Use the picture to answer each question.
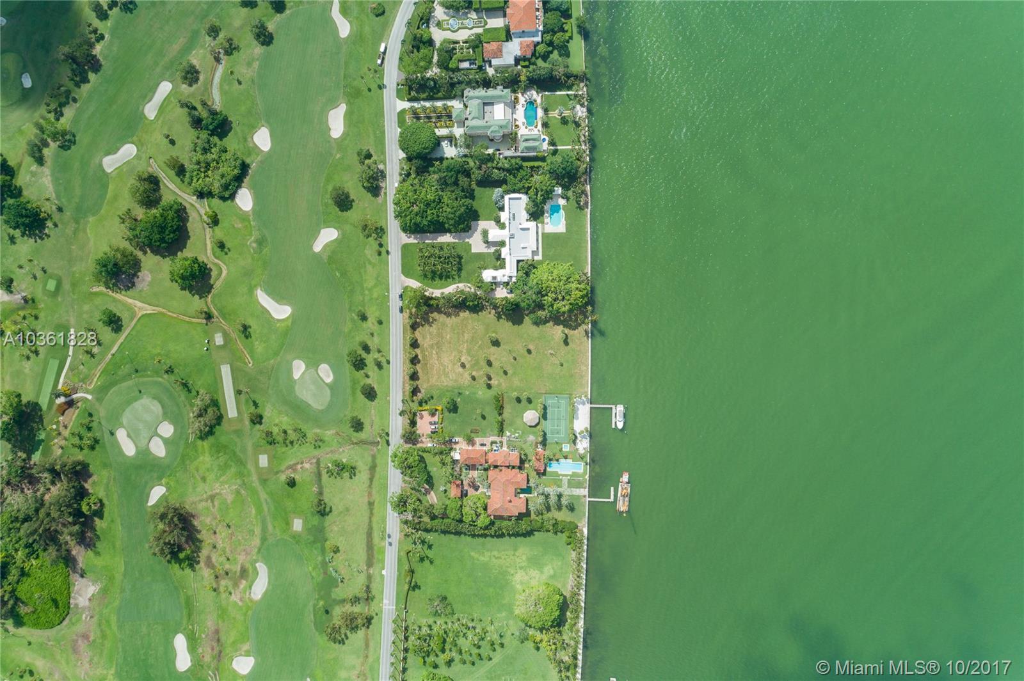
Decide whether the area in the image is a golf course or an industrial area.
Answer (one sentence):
This image shows a golf course.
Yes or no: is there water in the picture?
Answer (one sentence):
Yes, water shows up in the scene.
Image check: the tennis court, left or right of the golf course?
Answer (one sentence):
Relative to the golf course, the tennis court is on the right.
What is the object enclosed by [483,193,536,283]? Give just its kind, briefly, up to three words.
house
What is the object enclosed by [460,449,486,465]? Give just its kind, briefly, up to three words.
house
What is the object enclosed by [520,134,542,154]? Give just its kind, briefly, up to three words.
building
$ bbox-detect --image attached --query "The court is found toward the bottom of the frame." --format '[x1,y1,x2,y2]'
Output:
[543,395,569,443]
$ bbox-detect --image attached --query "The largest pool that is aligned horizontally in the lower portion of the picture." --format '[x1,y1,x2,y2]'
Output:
[548,459,582,474]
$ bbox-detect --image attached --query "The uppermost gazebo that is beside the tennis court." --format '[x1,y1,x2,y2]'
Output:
[524,410,539,425]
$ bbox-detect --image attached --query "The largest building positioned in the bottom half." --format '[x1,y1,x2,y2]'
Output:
[488,468,527,516]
